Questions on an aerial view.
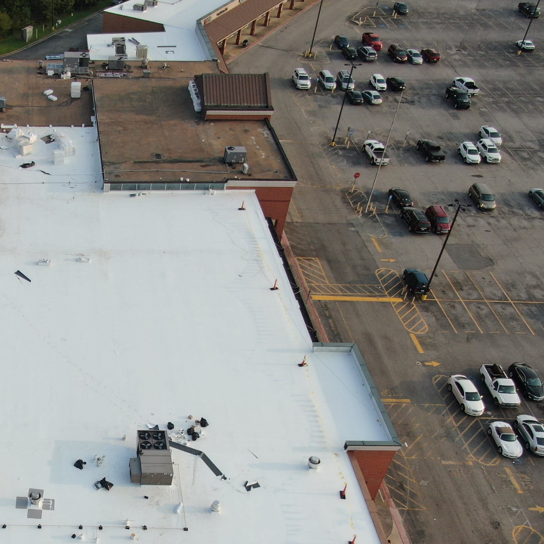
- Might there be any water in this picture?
No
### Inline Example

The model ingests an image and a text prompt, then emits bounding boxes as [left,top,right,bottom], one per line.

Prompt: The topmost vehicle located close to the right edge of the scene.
[517,3,541,19]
